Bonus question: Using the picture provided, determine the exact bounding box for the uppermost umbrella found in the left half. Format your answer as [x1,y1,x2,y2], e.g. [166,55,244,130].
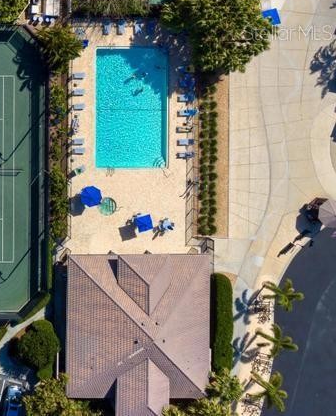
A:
[81,186,102,206]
